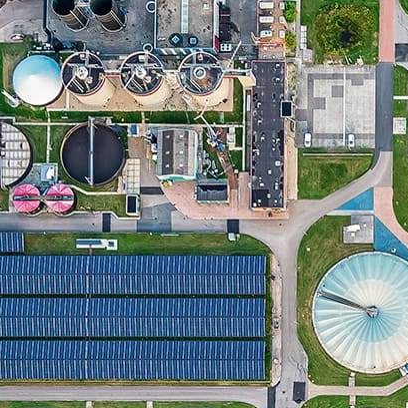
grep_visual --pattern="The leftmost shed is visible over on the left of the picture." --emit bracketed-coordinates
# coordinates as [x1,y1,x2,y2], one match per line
[41,164,59,182]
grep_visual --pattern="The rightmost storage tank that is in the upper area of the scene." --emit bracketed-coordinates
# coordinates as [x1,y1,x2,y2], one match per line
[177,51,222,106]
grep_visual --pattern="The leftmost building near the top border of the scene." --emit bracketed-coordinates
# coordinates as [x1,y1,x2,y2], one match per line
[155,0,213,55]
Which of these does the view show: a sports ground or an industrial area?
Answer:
industrial area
